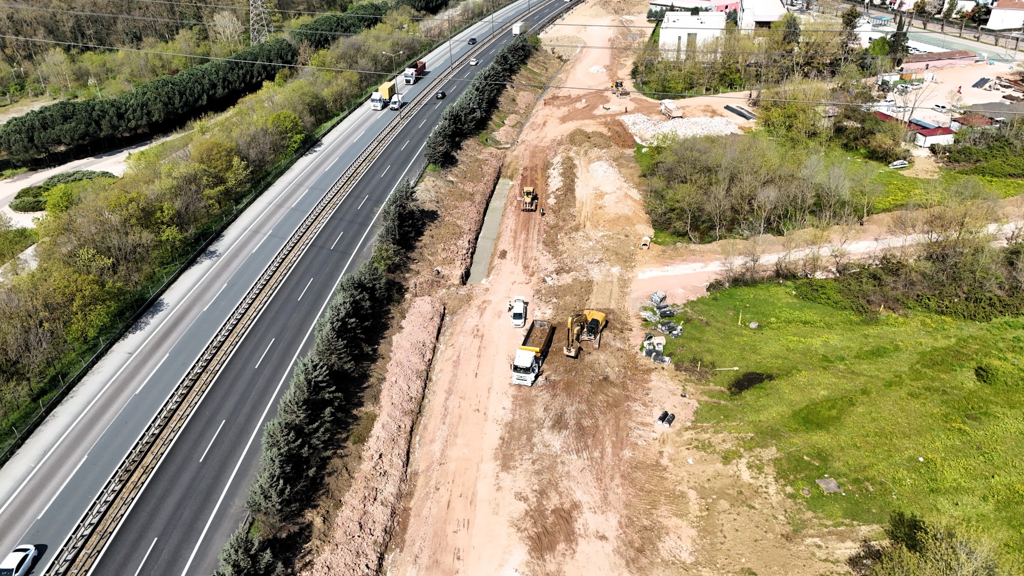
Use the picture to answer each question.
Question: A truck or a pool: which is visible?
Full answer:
Of the two, only a truck appears.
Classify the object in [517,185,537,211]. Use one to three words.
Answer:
work vehicle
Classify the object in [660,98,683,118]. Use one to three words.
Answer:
vehicle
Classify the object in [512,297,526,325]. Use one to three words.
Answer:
car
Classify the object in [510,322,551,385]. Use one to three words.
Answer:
truck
